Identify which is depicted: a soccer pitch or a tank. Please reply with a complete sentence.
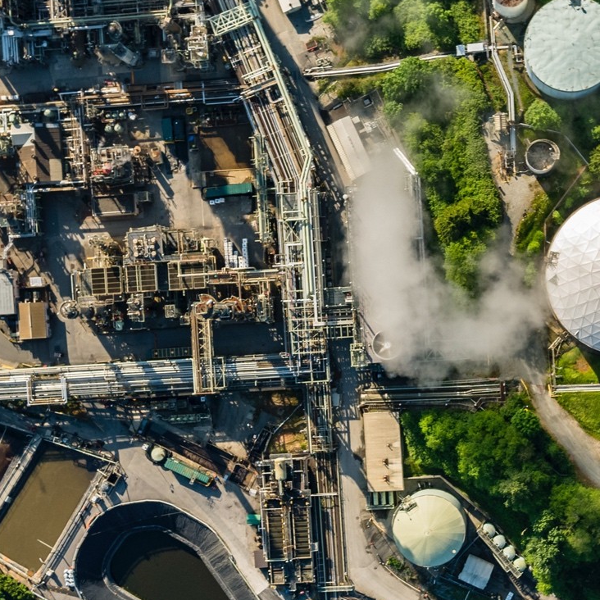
The image shows a tank.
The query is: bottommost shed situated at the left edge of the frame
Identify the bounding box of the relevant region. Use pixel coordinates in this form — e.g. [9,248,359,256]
[18,301,53,339]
